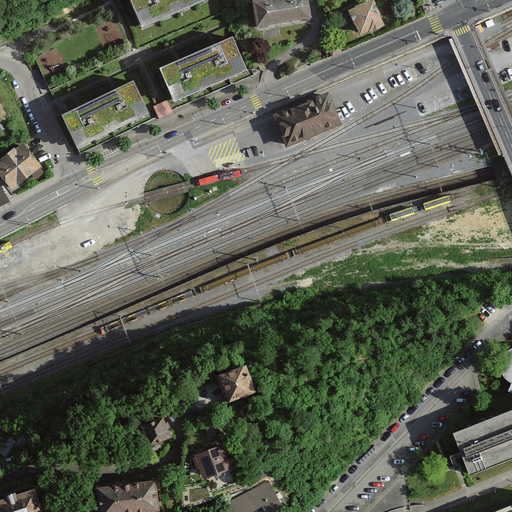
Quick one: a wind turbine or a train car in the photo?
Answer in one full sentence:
The one in the frame is a train car.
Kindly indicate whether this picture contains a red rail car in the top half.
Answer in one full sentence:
Yes, I can see a red rail car in the top half.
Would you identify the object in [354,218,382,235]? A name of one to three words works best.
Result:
rail car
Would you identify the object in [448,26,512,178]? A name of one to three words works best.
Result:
bridge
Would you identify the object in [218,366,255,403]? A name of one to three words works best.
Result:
house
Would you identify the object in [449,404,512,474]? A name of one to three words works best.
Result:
building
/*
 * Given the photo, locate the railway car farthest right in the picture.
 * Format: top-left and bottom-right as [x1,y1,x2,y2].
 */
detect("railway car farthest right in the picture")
[422,194,454,210]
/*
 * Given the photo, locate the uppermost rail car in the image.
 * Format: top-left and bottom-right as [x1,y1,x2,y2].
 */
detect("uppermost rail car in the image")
[197,168,243,186]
